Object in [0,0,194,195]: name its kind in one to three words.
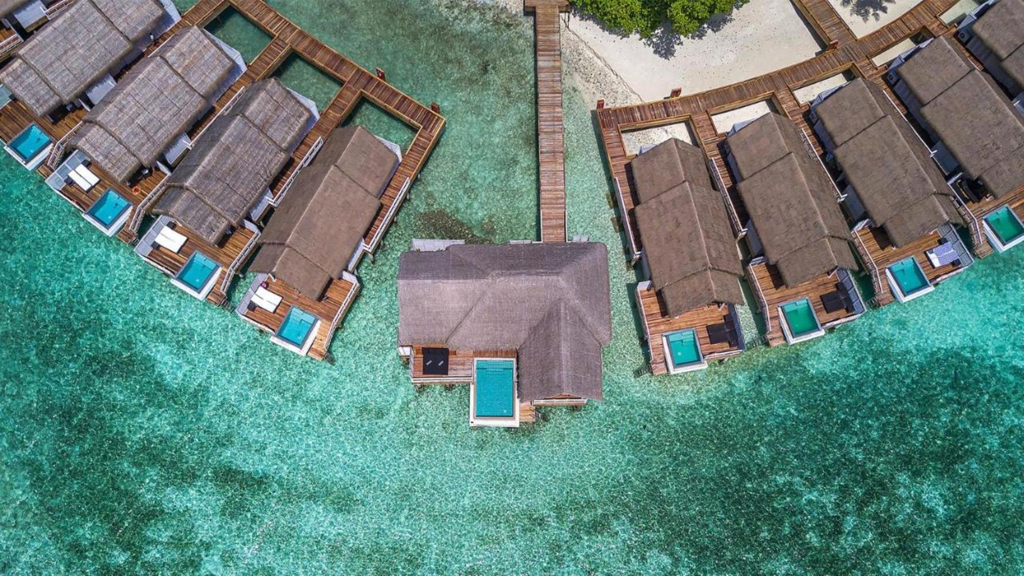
house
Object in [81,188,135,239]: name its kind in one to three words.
swimming pool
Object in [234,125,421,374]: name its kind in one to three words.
house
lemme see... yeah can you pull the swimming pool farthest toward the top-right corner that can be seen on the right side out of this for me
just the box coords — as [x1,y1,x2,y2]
[978,205,1024,255]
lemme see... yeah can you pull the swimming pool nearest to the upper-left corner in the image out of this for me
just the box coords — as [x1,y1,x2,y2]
[2,122,56,173]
